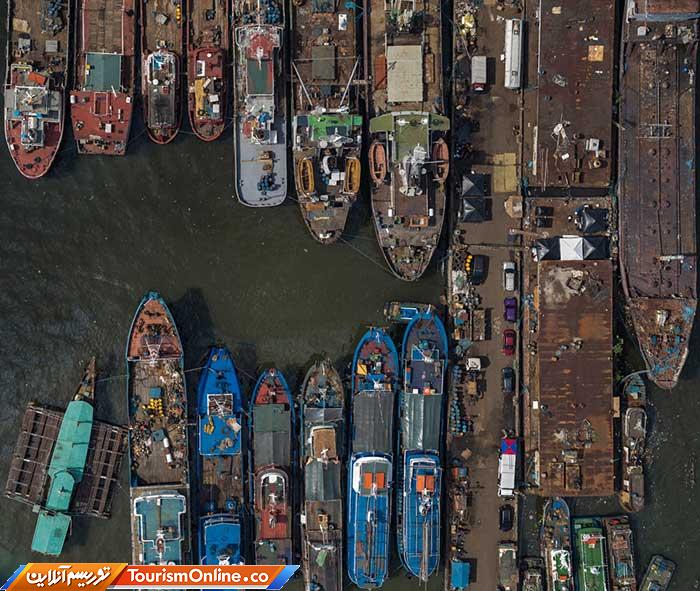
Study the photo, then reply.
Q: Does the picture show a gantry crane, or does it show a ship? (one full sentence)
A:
This aerial view contains a ship.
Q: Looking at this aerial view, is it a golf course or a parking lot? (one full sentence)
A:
This looks like a parking lot.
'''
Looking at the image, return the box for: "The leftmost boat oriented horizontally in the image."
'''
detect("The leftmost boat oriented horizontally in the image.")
[386,302,432,322]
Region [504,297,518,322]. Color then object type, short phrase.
purple vehicle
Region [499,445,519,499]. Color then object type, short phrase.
white vehicle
